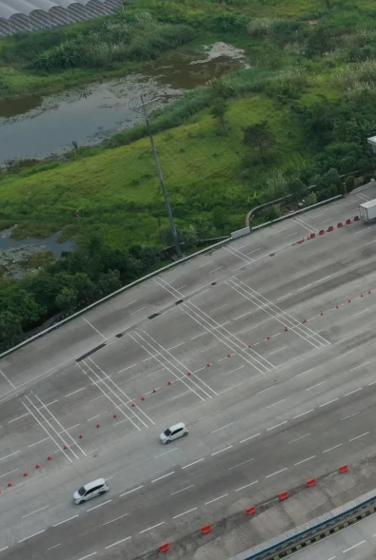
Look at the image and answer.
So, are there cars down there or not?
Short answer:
Yes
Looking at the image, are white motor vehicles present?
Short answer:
Yes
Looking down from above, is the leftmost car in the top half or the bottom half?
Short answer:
bottom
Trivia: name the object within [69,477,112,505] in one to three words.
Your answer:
car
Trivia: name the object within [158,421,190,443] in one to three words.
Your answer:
car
